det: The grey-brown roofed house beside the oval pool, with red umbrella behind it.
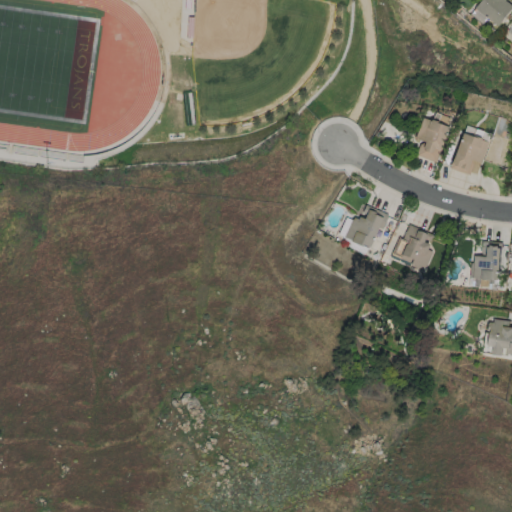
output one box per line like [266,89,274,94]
[346,206,390,249]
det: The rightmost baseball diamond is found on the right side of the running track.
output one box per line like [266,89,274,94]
[194,0,336,124]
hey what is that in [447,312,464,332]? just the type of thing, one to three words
swimming pool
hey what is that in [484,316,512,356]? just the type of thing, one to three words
house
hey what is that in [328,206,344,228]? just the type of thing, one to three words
swimming pool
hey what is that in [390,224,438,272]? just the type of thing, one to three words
house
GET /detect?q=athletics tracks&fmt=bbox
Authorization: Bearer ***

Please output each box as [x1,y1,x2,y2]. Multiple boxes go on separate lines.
[0,0,161,154]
